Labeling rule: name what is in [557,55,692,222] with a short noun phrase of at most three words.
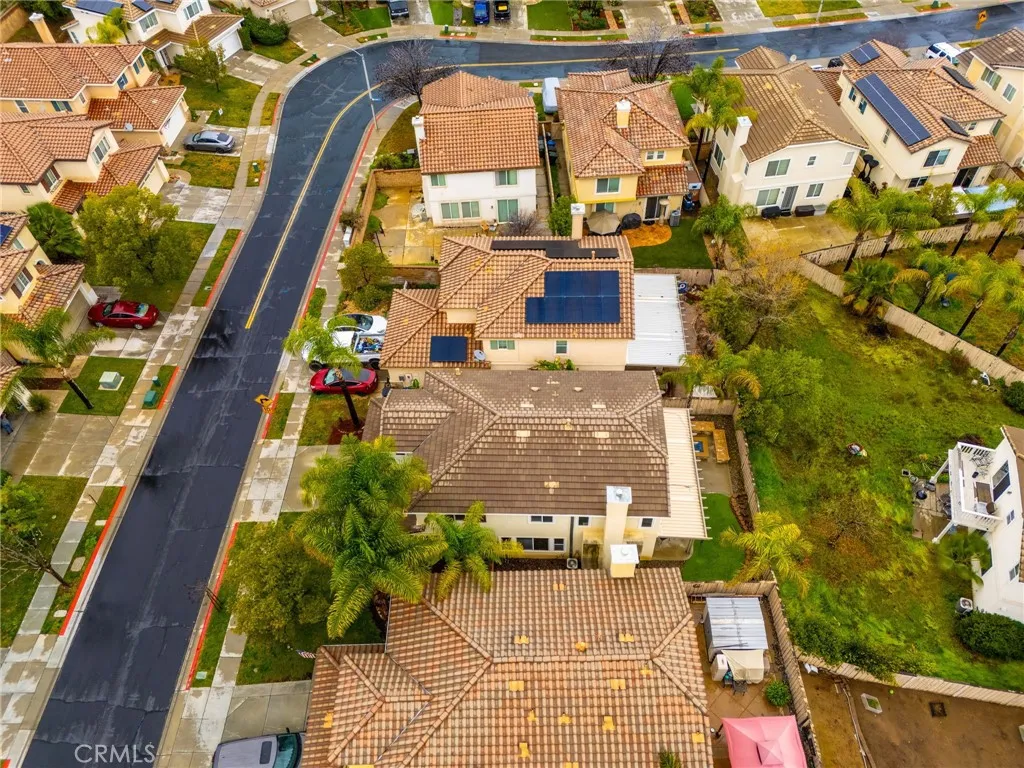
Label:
house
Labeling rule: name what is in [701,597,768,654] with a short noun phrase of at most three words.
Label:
shed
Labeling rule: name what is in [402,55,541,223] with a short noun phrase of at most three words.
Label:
house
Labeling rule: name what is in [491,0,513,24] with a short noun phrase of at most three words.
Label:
car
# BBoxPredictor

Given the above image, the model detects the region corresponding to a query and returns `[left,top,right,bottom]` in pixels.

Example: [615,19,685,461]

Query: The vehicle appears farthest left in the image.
[87,300,159,330]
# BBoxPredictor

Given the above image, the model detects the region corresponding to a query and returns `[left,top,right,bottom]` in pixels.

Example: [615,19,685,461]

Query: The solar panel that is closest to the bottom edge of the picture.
[431,336,467,361]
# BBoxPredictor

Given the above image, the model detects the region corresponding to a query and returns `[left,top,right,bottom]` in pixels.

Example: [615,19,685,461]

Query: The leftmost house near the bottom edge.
[301,547,714,768]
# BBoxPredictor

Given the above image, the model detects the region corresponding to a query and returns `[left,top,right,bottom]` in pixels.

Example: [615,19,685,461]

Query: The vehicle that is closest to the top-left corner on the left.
[179,132,239,158]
